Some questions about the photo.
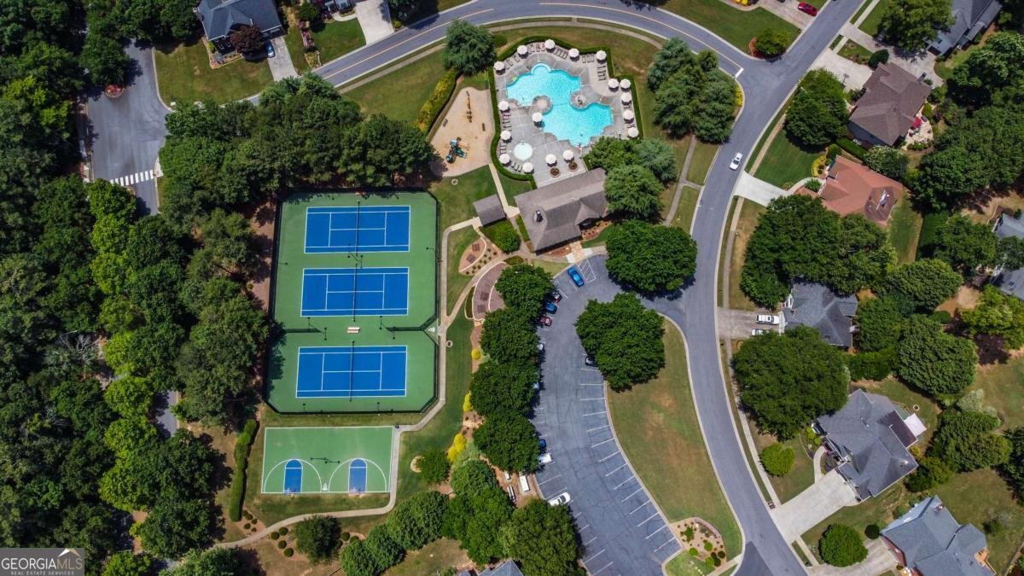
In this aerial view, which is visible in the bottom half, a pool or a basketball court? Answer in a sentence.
It is a basketball court that can be seen in the bottom half.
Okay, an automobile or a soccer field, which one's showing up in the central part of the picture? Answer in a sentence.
Looking in the central part of the picture, you will find an automobile.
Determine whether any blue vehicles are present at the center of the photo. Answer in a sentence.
Yes, a blue vehicle is visible at the center of the photo.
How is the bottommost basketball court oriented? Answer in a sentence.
In this picture, the bottommost basketball court is oriented from left to right.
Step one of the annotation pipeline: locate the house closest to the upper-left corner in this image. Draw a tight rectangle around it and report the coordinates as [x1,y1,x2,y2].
[195,0,284,55]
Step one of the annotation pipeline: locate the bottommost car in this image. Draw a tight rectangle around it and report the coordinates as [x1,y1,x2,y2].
[548,491,571,507]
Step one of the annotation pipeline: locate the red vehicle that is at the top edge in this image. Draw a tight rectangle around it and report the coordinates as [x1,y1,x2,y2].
[799,1,818,14]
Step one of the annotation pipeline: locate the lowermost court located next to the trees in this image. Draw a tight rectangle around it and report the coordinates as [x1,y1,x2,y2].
[260,426,393,494]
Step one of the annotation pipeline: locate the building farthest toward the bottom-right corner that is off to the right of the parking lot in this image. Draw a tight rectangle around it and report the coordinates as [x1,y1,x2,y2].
[877,496,997,576]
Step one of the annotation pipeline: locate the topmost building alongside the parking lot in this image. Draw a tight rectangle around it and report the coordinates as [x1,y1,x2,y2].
[515,171,611,254]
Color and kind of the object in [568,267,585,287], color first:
blue car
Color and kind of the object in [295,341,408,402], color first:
blue tennis court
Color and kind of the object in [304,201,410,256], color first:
blue tennis court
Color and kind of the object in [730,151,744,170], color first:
white car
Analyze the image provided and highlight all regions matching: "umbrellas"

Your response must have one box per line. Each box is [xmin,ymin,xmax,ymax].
[620,79,631,90]
[621,93,632,104]
[498,101,509,111]
[595,50,606,61]
[627,127,639,138]
[522,162,533,173]
[532,112,543,123]
[501,131,512,142]
[910,117,923,129]
[498,154,510,165]
[608,78,619,90]
[563,150,574,161]
[544,40,555,51]
[546,155,557,166]
[568,48,579,59]
[494,62,505,73]
[517,45,528,56]
[622,110,634,121]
